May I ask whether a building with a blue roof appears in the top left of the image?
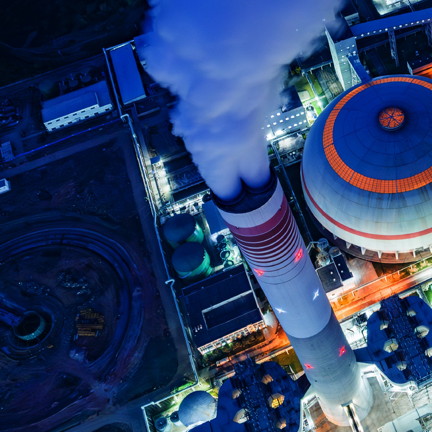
Yes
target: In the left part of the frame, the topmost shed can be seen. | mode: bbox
[134,27,174,65]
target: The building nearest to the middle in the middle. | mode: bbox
[202,200,230,238]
